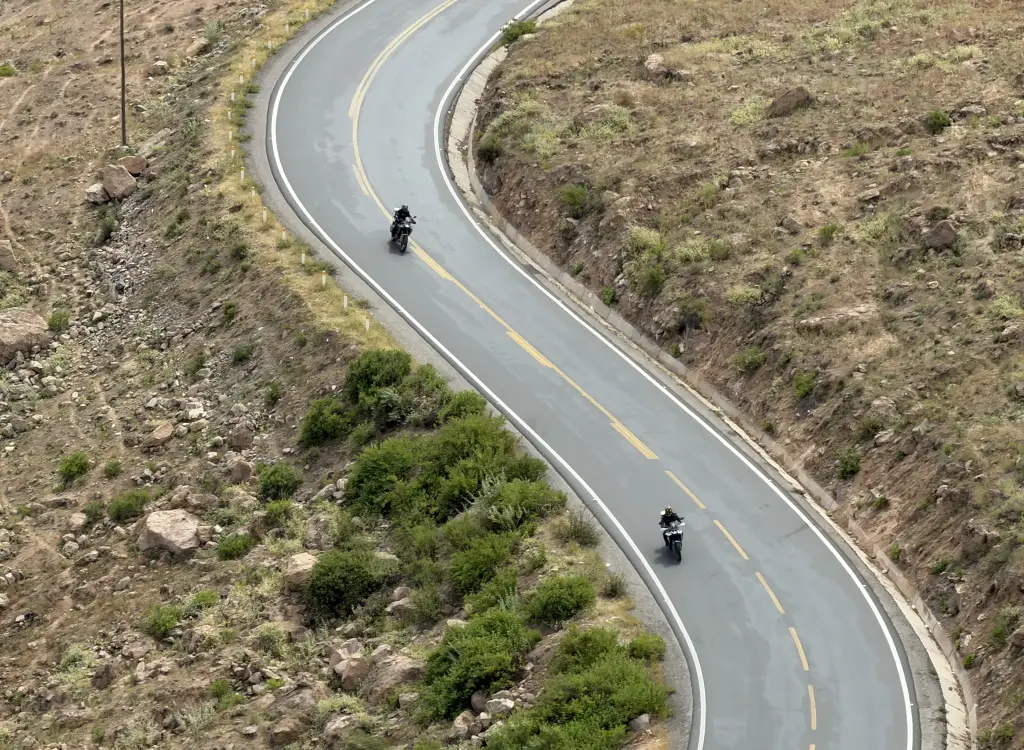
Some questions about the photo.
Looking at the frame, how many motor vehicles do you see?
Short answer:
two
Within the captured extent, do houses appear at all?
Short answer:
No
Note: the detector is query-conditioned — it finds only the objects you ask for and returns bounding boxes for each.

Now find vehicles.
[658,521,687,563]
[390,216,418,253]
